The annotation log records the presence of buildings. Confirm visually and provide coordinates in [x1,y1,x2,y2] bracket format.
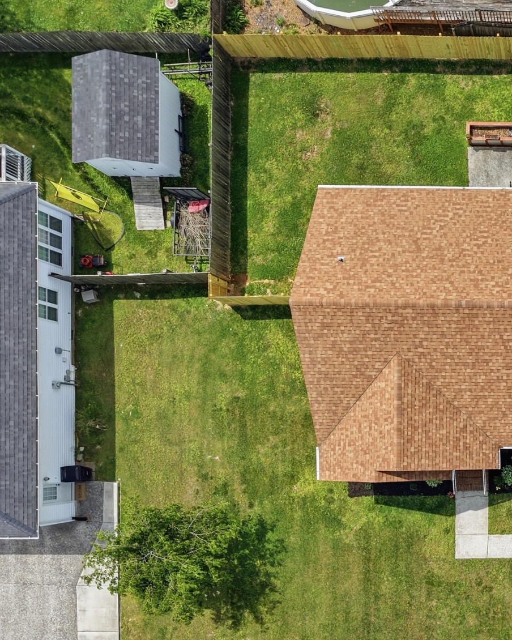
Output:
[291,186,512,495]
[70,48,181,176]
[0,178,77,543]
